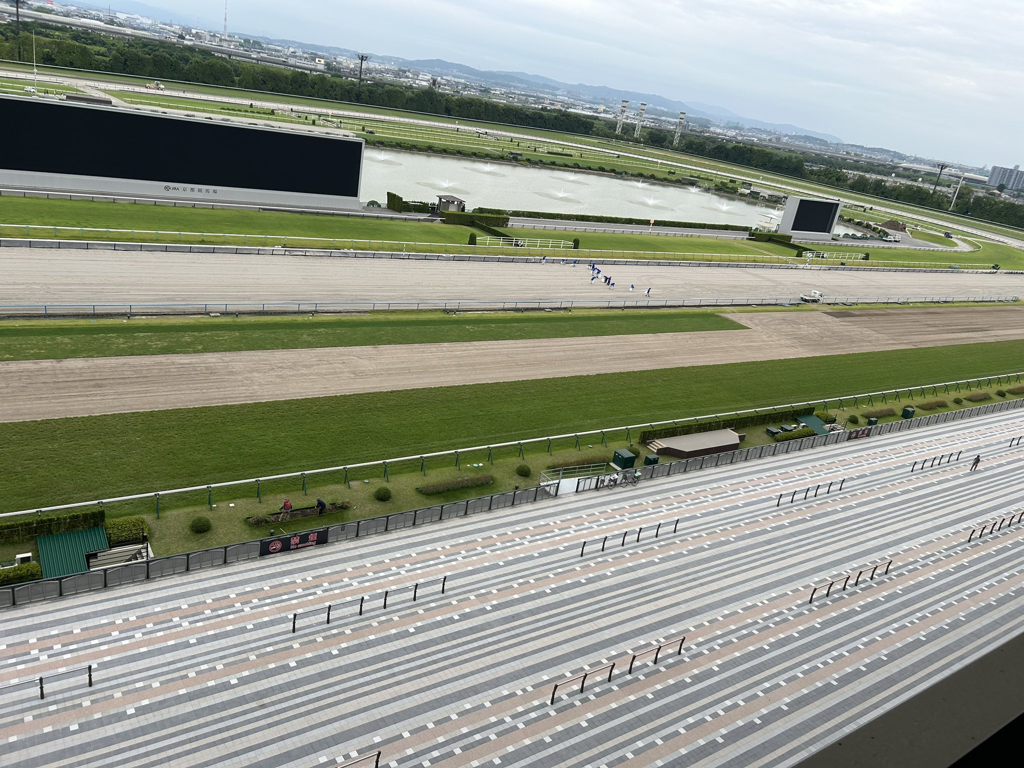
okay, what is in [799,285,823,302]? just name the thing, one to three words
vehicle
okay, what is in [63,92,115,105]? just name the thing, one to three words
shed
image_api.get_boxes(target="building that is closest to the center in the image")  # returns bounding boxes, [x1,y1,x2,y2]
[432,191,472,209]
